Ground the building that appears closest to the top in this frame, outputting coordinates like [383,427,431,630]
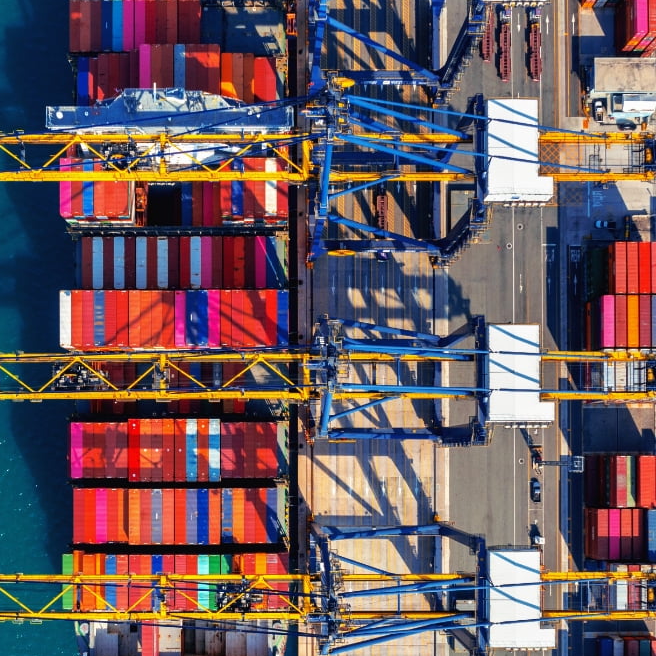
[592,58,656,96]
